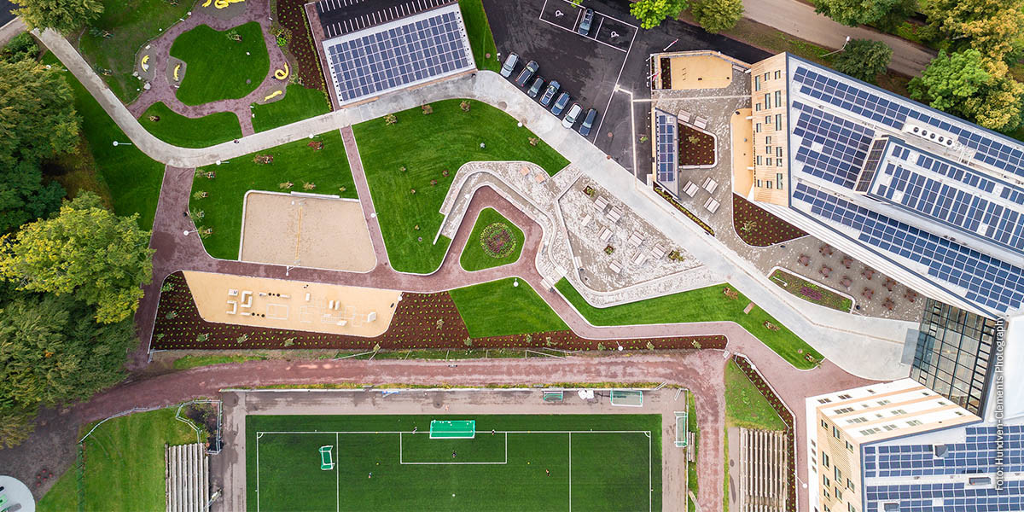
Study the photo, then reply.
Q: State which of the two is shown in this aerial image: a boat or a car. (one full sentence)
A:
Of the two, only a car appears.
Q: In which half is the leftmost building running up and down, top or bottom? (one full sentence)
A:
It is in the top half that the leftmost building running up and down appears.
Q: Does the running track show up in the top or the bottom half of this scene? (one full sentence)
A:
The running track is in the bottom half of the image.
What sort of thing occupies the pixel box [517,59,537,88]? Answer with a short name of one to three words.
car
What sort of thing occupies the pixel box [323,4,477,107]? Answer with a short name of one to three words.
shed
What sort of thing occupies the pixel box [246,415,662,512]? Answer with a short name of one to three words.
soccer field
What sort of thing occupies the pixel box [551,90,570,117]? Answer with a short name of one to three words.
car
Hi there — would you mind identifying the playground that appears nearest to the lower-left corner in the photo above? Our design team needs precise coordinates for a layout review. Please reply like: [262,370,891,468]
[181,271,404,336]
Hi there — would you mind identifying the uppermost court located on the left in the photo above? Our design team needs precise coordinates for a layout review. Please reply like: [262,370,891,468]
[239,190,378,273]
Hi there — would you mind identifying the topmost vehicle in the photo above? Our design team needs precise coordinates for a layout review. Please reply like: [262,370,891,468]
[578,8,594,35]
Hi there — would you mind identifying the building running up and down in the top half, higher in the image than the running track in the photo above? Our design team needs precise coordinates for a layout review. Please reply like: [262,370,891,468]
[656,108,679,200]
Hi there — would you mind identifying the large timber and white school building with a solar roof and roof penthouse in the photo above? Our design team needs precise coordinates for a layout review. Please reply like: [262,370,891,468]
[748,52,1024,330]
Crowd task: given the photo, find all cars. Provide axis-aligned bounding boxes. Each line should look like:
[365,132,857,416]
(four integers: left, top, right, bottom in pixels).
[579,107,598,135]
[517,59,537,88]
[501,52,519,78]
[540,80,560,107]
[578,8,594,35]
[551,90,570,117]
[563,102,582,129]
[528,76,545,99]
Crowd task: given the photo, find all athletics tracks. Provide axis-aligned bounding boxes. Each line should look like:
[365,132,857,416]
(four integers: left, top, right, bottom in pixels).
[42,349,727,512]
